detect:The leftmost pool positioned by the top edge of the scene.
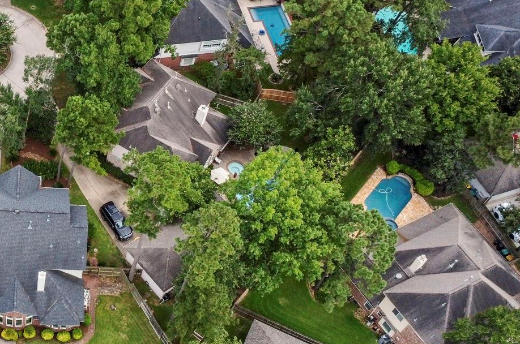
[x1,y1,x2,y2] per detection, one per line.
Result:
[248,5,296,55]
